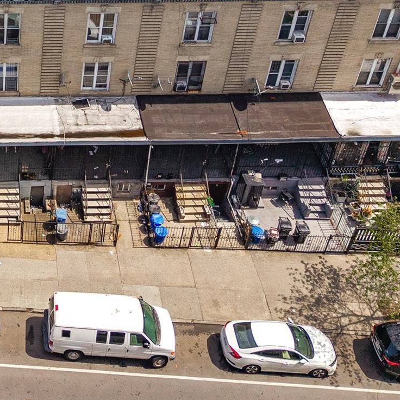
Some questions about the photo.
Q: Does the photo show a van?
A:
Yes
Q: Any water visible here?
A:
No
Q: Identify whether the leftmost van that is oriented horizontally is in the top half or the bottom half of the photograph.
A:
bottom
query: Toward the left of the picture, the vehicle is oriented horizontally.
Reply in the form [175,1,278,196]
[42,291,185,367]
